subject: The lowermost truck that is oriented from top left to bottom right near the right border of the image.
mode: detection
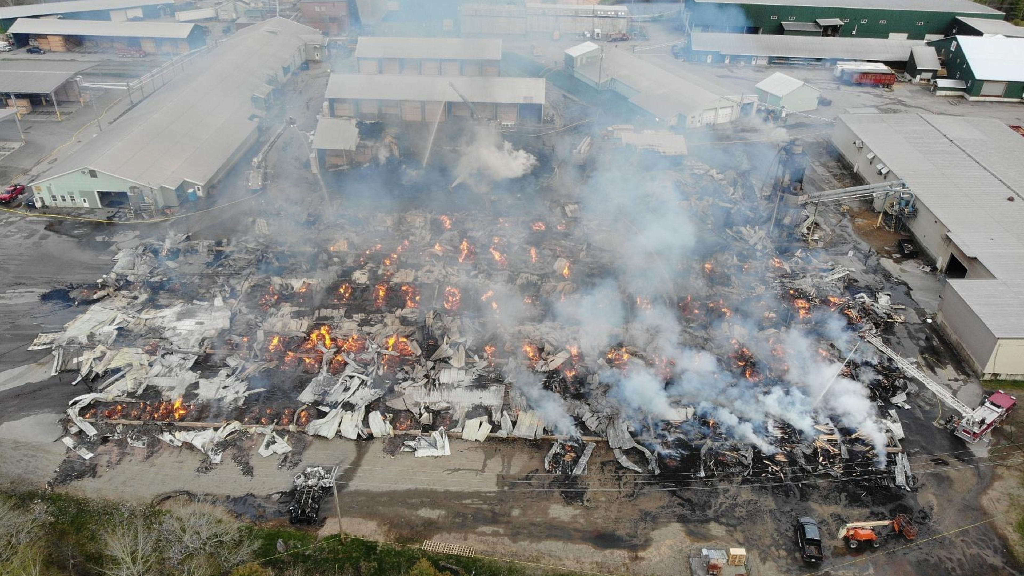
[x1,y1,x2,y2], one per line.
[860,327,1017,450]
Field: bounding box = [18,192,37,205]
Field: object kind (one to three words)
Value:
vehicle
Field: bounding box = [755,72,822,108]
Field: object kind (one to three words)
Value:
house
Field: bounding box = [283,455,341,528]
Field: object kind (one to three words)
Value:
truck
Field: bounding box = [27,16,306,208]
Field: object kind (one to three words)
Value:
building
